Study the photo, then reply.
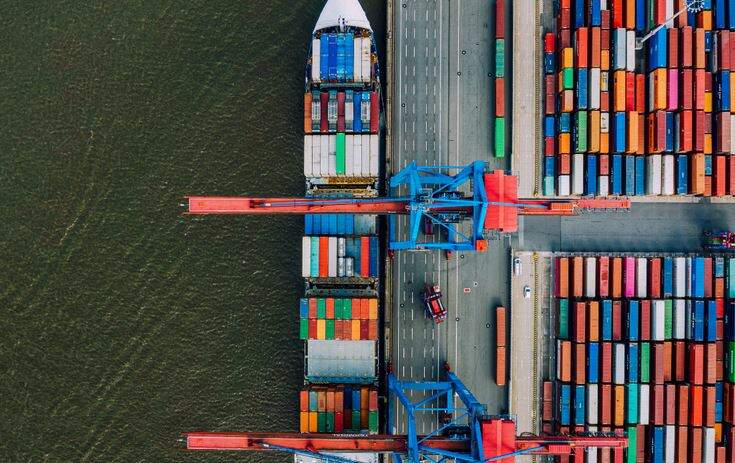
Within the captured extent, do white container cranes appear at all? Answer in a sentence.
No, the frame has no white container crane in it.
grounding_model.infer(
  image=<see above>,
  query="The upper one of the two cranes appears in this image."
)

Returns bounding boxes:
[179,158,630,258]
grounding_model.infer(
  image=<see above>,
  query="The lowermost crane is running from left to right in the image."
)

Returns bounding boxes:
[179,359,629,463]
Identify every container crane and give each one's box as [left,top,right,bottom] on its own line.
[179,359,629,463]
[179,158,630,258]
